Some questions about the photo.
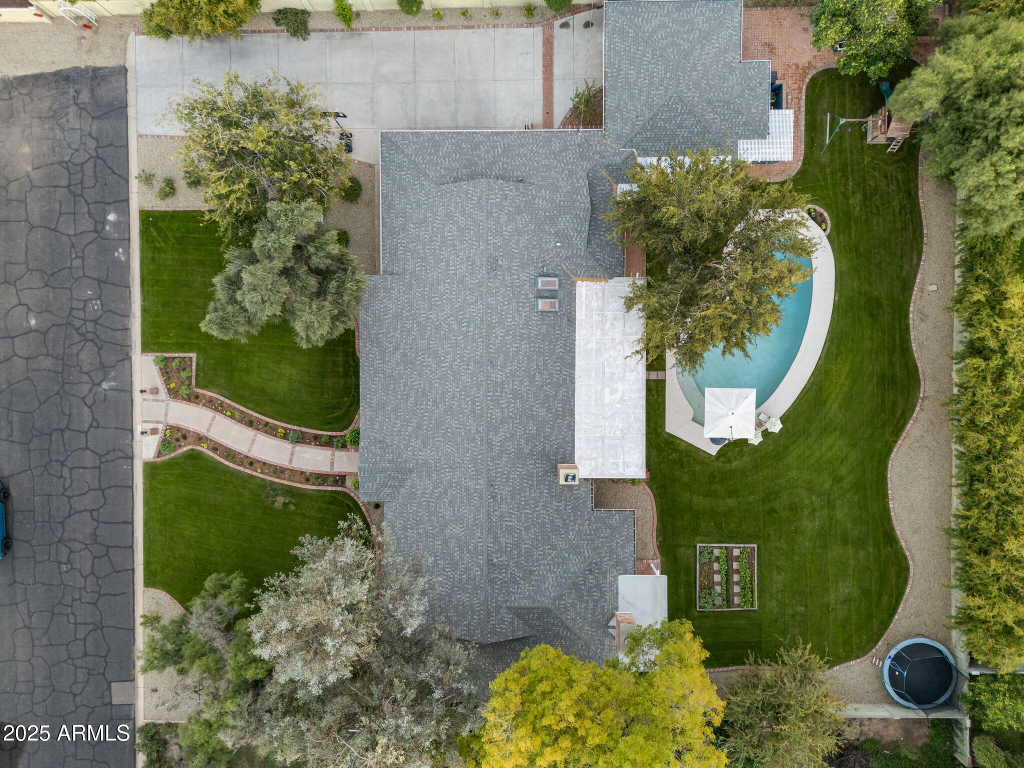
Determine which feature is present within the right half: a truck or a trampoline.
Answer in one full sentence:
The feature located within the right half is a trampoline.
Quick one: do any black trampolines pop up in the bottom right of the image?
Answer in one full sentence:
Yes, you'll find a black trampoline in the bottom right of the image.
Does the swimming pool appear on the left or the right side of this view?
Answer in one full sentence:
The swimming pool is on the right side of the image.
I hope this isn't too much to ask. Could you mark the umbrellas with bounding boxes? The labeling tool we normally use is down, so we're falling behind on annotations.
[766,417,781,433]
[747,429,762,445]
[703,387,756,445]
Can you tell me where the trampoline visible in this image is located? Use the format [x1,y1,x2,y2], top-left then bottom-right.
[876,631,966,718]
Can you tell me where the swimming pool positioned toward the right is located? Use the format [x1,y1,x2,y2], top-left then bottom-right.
[684,226,813,426]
